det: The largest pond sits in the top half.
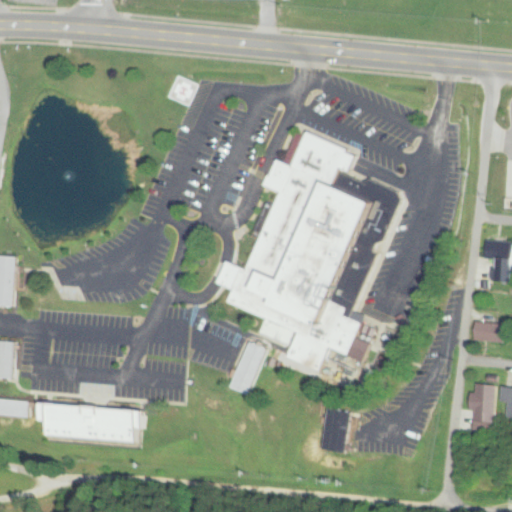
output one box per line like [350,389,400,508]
[14,98,127,245]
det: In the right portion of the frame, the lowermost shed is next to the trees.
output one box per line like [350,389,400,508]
[321,409,350,453]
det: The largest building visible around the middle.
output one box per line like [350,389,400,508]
[215,131,400,378]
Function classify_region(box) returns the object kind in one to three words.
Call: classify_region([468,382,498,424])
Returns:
house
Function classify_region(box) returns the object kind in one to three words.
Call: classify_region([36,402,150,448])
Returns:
building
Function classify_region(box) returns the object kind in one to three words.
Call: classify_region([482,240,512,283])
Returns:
house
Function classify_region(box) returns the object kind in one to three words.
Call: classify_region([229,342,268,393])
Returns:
building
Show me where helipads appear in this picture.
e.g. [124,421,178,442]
[168,75,200,108]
